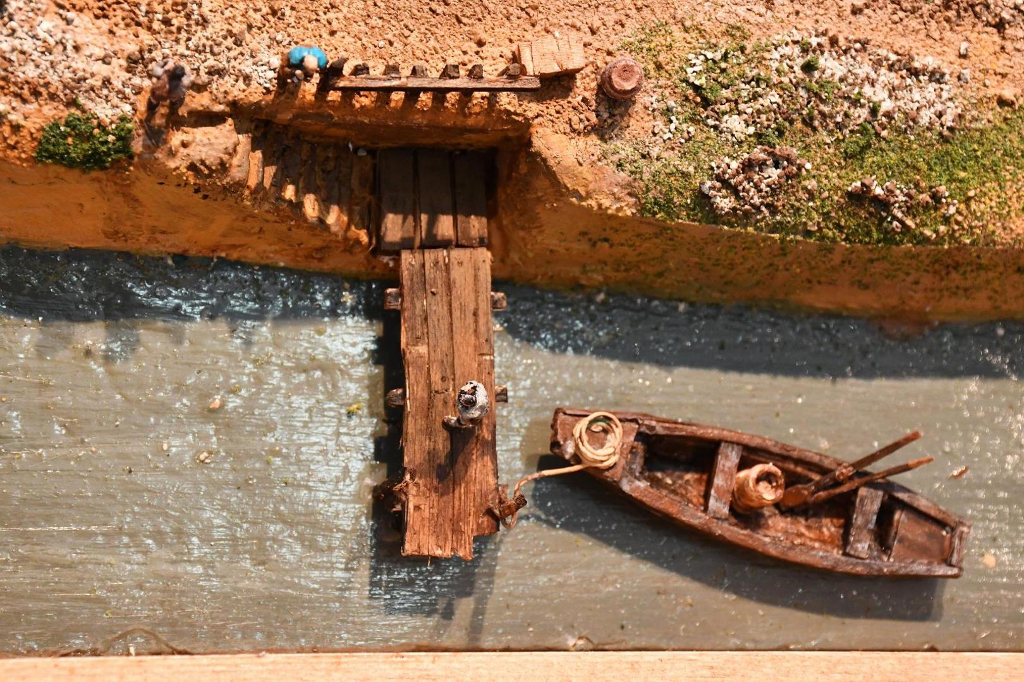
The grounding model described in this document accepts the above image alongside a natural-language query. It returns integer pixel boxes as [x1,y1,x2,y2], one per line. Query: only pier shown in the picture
[377,247,527,566]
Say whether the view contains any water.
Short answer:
Yes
